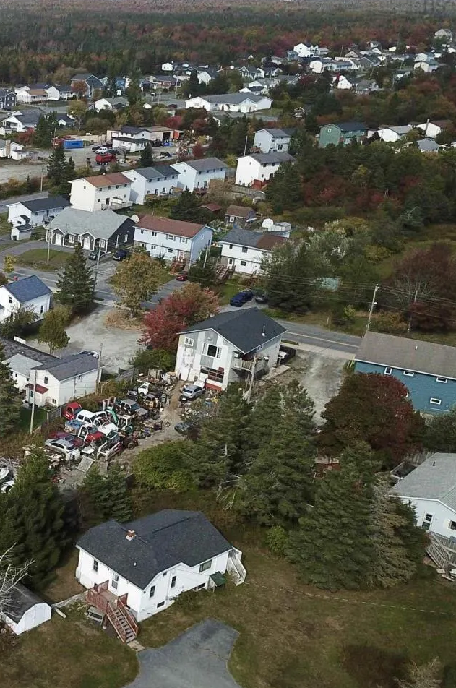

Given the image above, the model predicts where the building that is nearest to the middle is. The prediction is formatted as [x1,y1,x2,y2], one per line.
[172,310,296,391]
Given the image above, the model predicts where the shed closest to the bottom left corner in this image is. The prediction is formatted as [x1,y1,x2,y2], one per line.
[0,586,56,642]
